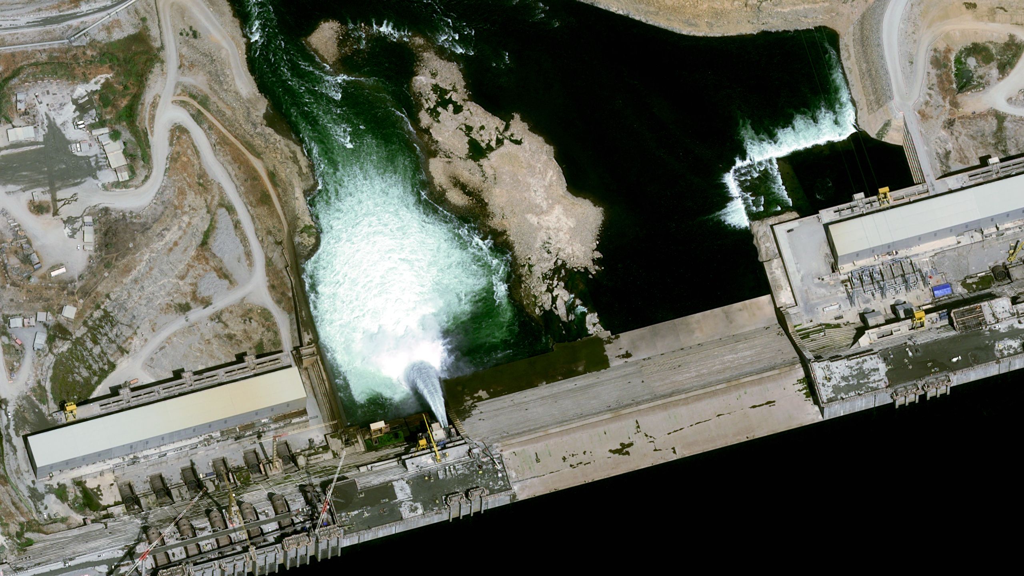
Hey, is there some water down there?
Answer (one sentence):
Yes, there's water in this view.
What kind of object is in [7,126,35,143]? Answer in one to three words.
shed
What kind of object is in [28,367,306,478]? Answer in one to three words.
building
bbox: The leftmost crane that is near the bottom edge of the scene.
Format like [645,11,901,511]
[122,488,205,576]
